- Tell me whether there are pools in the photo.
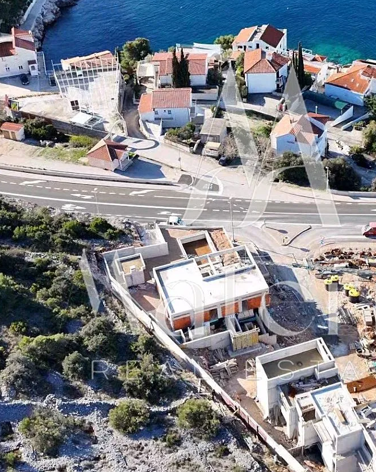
No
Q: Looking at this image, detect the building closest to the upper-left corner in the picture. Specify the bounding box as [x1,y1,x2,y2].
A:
[0,25,44,77]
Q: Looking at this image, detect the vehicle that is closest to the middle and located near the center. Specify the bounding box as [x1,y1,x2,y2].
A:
[156,213,184,226]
